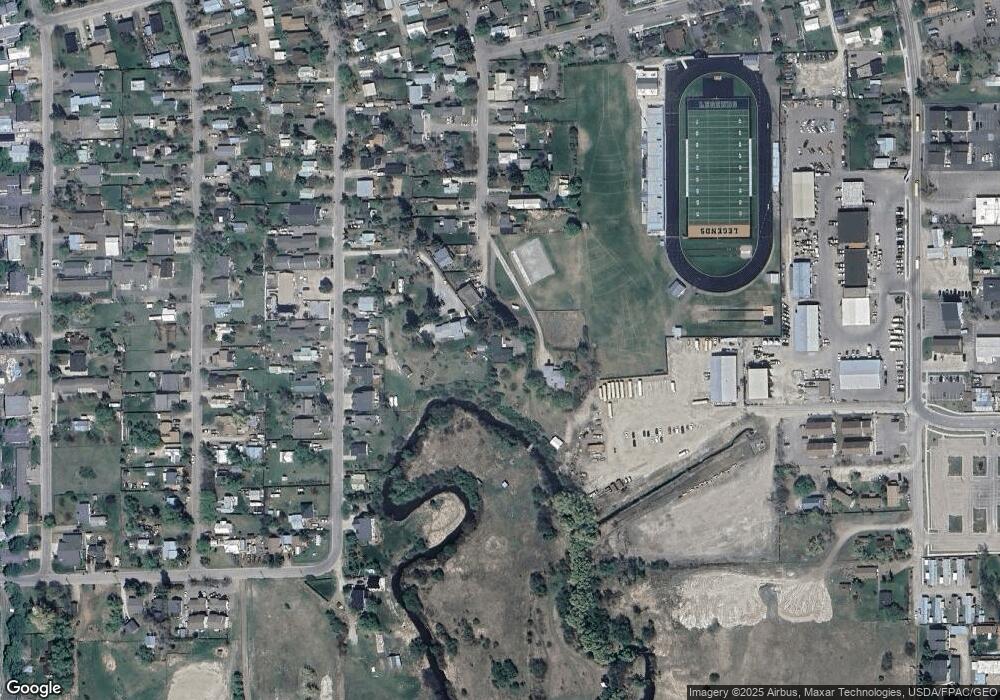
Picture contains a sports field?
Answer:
Yes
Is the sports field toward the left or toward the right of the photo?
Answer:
right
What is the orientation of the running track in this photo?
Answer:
from top to bottom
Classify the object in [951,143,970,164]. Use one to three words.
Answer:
building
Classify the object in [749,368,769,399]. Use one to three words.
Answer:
building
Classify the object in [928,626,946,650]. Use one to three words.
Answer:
house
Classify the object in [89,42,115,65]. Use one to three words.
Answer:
house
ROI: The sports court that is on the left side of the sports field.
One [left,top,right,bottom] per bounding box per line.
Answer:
[516,238,555,286]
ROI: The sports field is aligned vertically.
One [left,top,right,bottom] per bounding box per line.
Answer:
[680,72,759,276]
